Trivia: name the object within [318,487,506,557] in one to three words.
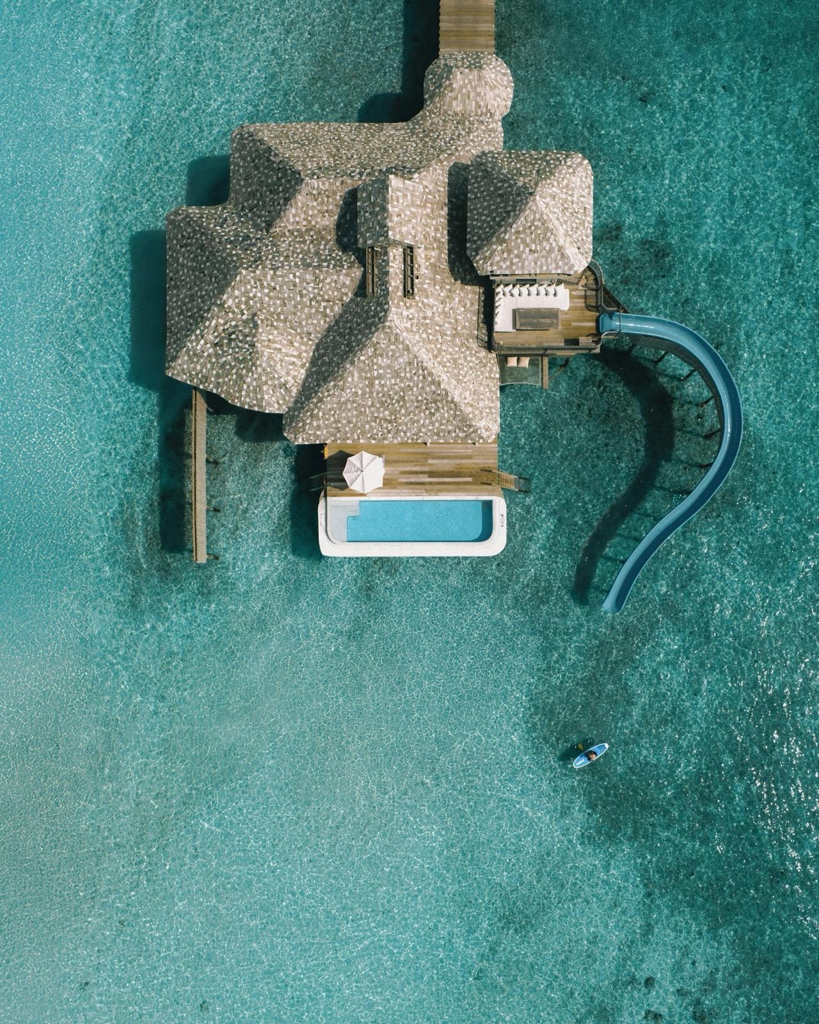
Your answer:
swimming pool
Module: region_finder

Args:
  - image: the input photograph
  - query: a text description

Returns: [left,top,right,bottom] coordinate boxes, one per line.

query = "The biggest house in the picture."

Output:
[166,107,505,451]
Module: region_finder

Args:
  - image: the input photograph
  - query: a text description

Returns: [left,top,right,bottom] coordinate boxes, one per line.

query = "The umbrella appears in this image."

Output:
[343,451,385,494]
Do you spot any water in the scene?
Yes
